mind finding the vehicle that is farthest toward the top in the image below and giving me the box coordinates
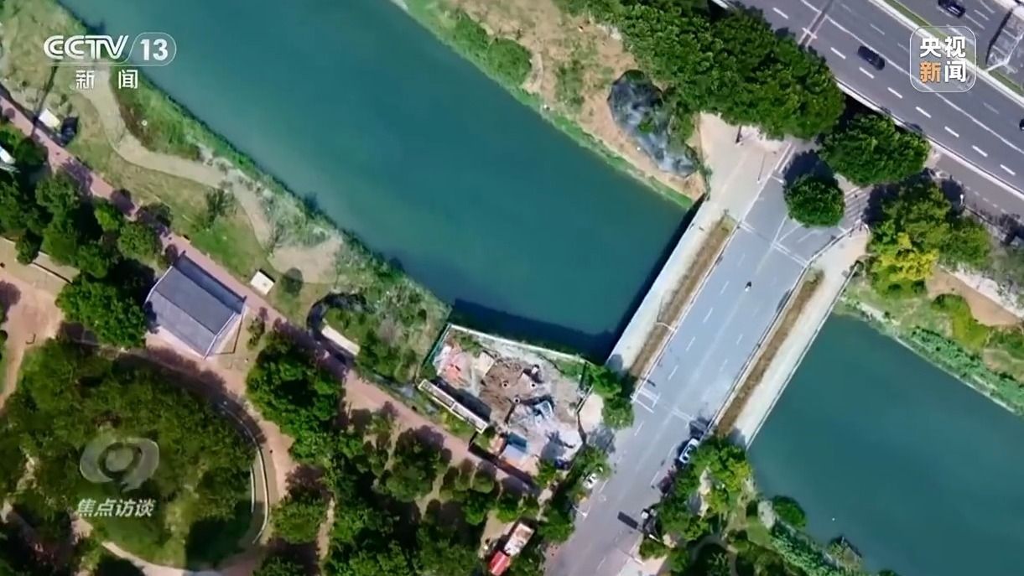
[934,0,967,21]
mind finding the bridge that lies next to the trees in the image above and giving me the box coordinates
[609,199,860,447]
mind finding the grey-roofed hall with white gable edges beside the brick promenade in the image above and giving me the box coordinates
[144,250,253,359]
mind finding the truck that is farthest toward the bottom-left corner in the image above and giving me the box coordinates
[493,522,527,571]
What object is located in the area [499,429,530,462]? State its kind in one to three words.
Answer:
shed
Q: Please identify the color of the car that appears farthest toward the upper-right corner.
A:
black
